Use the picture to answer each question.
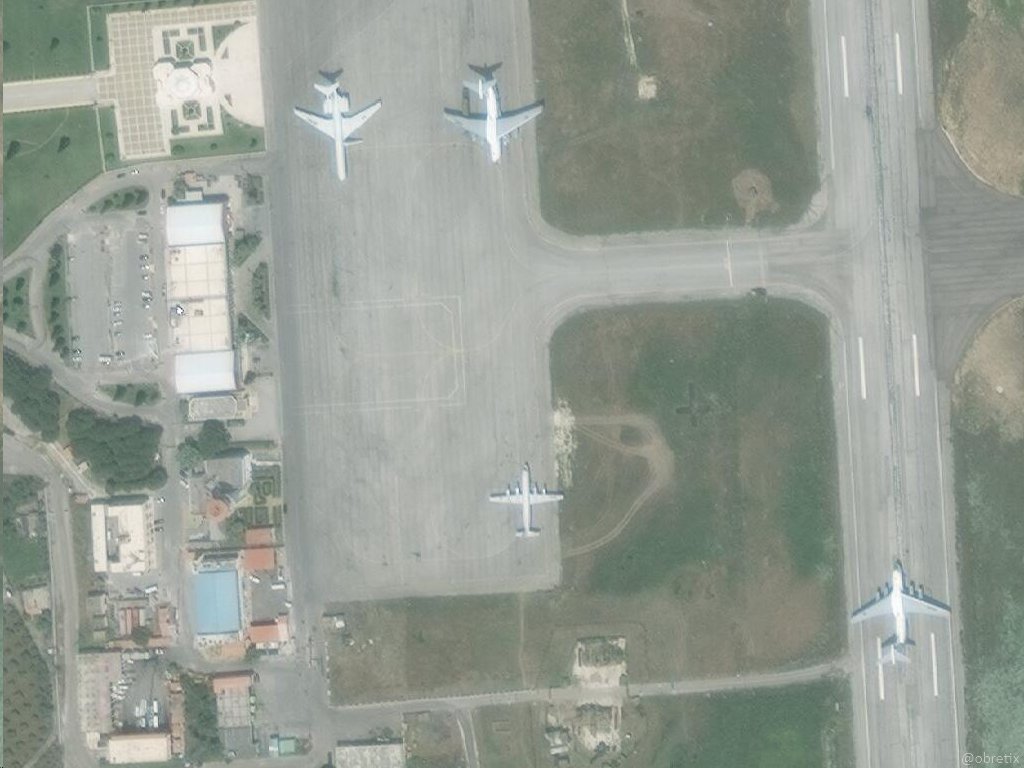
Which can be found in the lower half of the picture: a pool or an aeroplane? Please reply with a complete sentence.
What appears in the lower half of the picture is an aeroplane.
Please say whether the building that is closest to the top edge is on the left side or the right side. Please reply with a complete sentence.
The building that is closest to the top edge sits on the left side.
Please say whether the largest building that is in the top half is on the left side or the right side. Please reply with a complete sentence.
It is on the left.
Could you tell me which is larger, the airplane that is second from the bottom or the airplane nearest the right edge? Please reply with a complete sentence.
The airplane nearest the right edge covers a greater area than the airplane that is second from the bottom.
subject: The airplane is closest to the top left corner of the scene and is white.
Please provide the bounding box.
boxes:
[295,81,380,180]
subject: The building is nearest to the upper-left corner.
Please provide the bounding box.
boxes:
[154,58,218,105]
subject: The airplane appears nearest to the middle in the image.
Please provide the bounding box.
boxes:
[489,462,563,541]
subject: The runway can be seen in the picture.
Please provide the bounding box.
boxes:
[825,0,959,768]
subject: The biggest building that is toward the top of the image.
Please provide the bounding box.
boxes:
[165,198,244,393]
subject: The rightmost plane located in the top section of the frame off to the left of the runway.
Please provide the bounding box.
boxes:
[442,75,542,162]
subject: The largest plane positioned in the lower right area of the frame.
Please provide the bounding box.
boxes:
[849,559,949,663]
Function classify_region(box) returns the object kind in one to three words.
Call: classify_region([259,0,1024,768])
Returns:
airport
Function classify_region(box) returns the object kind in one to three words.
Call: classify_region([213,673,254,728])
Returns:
building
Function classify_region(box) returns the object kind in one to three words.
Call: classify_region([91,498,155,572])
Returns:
building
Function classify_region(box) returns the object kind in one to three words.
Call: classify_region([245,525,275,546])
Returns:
house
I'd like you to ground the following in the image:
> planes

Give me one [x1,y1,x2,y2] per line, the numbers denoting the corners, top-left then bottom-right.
[295,81,380,180]
[442,75,542,162]
[849,559,949,663]
[489,462,563,541]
